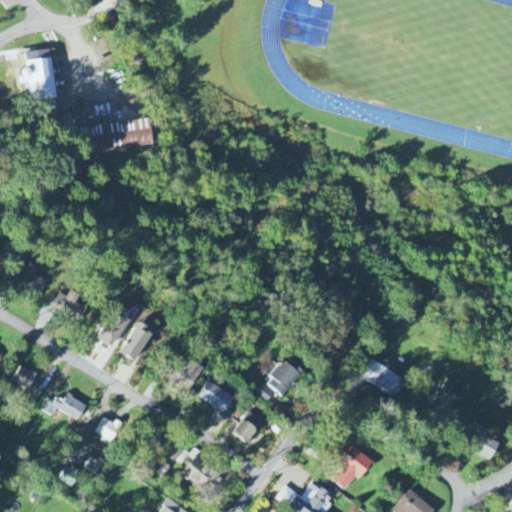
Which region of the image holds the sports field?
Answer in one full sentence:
Look in the top right portion of the view to spot the sports field.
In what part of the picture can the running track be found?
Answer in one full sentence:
The running track is located in the top right region of the scene.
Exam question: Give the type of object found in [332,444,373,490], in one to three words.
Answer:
house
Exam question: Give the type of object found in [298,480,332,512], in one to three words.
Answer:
house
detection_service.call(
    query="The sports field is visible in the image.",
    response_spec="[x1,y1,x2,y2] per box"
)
[280,0,512,140]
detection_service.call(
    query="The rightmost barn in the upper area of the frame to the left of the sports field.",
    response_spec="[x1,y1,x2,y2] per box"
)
[84,118,154,152]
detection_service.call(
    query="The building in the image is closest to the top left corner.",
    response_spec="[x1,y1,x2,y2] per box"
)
[18,48,57,98]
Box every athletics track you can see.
[262,0,512,159]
